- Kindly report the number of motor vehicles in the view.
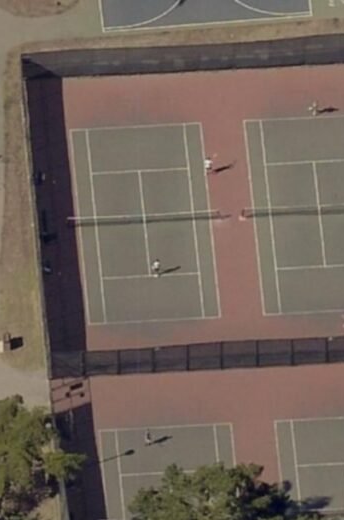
0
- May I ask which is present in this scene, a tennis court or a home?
tennis court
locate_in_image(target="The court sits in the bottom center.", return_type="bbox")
[100,423,238,520]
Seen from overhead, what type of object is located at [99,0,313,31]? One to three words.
basketball court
